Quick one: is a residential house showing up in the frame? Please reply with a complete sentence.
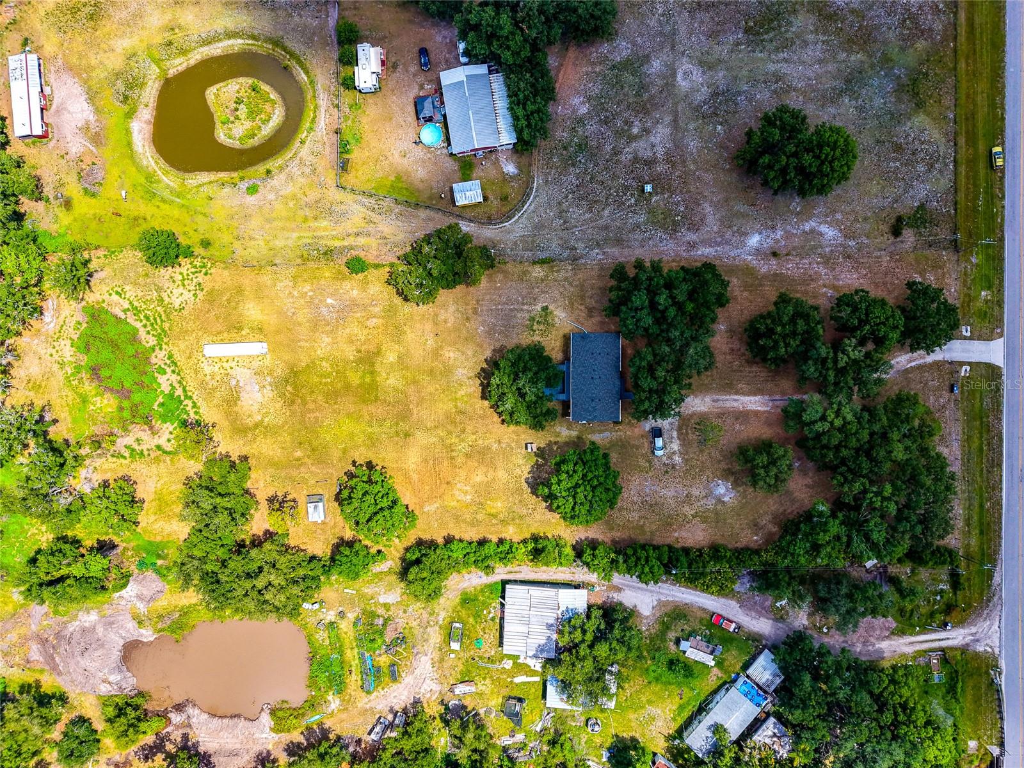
Yes, a residential house appears in the view.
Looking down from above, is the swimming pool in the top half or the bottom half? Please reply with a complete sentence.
The swimming pool is in the top half of the image.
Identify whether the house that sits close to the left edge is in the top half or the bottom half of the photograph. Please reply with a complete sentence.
The house that sits close to the left edge sits in the top half of the picture.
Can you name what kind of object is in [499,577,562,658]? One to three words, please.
building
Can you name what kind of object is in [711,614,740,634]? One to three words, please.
vehicle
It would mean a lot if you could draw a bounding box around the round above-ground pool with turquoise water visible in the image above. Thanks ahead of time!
[420,124,442,147]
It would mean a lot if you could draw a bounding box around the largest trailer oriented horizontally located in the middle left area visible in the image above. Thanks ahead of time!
[203,342,271,357]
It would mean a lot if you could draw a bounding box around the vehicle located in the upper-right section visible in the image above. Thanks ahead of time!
[990,147,1003,169]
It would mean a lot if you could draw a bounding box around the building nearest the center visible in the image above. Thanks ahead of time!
[543,321,632,422]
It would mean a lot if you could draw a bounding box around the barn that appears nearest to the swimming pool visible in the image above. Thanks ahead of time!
[440,64,500,161]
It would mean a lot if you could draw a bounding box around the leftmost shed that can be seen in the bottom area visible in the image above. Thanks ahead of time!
[307,493,327,523]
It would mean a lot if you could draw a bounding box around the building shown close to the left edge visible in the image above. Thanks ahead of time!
[9,52,66,143]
